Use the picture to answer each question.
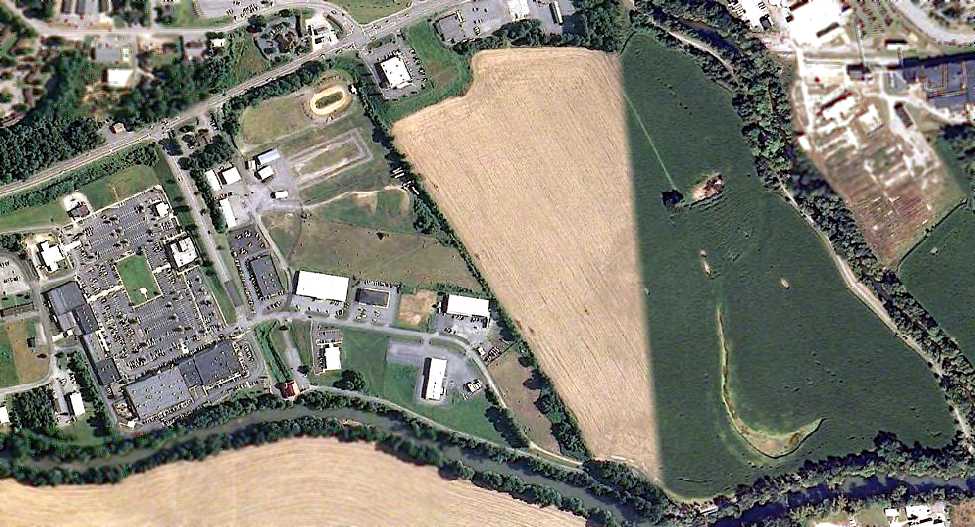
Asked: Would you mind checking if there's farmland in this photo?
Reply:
Yes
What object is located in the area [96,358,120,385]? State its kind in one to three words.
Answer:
building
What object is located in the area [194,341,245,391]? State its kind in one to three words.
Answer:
building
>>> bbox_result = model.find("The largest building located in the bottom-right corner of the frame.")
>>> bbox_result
[906,504,931,520]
